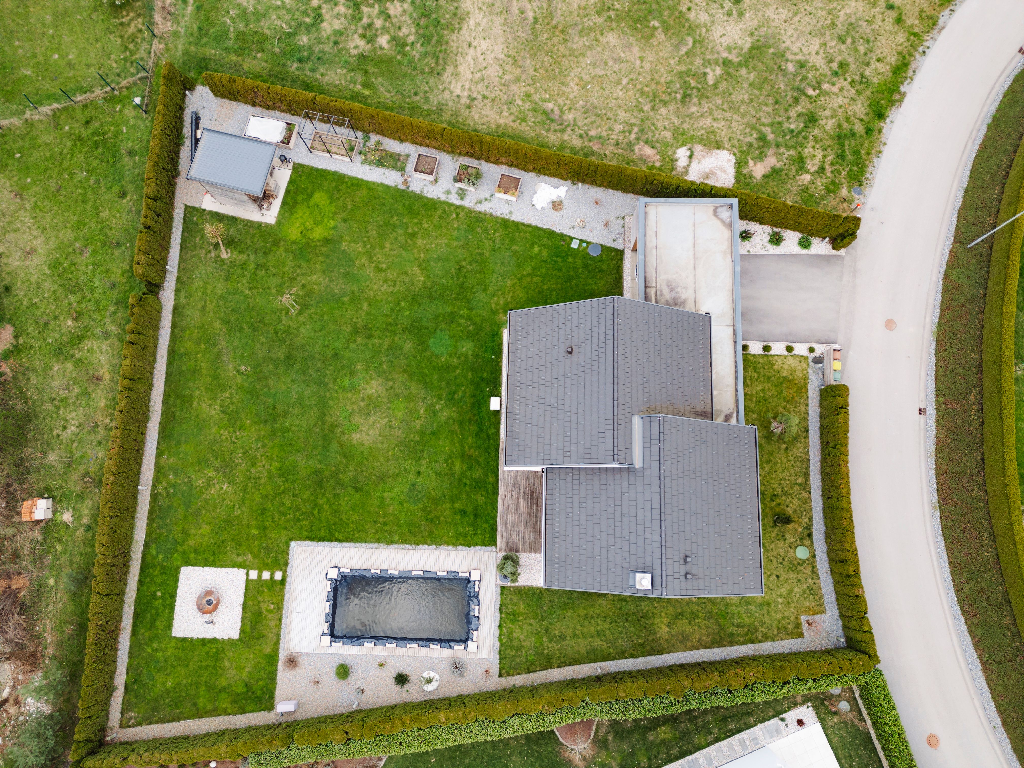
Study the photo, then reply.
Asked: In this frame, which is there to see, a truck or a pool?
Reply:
pool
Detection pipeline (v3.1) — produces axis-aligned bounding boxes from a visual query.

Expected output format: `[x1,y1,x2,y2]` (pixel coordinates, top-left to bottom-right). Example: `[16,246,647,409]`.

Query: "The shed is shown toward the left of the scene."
[185,126,278,212]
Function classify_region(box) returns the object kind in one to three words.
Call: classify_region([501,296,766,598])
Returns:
house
